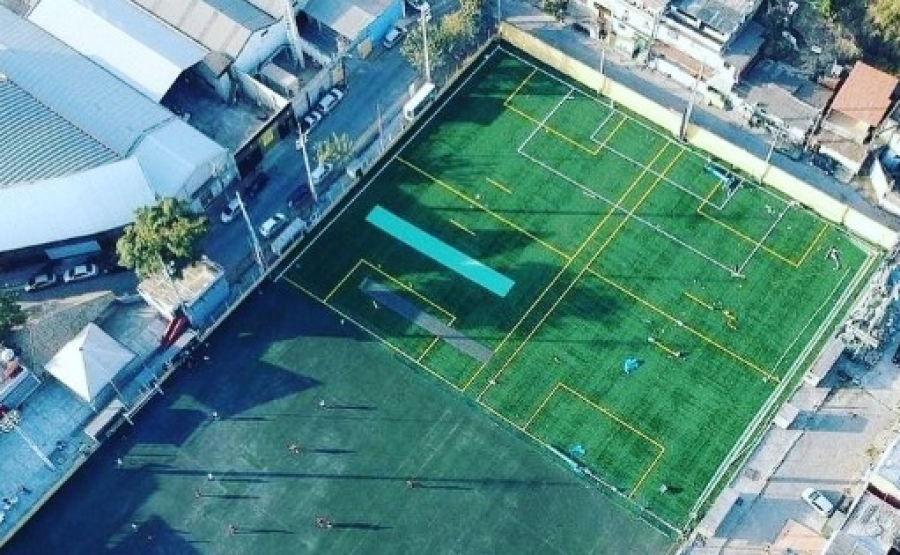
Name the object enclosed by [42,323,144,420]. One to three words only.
tent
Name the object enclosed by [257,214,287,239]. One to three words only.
car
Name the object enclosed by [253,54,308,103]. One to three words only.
shed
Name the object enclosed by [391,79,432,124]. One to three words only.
vehicle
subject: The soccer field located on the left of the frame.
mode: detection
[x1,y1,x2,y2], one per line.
[1,276,684,555]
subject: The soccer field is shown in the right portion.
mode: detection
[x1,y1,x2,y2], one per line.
[272,44,888,548]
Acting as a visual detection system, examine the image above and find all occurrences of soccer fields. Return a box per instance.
[272,44,888,548]
[1,276,684,555]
